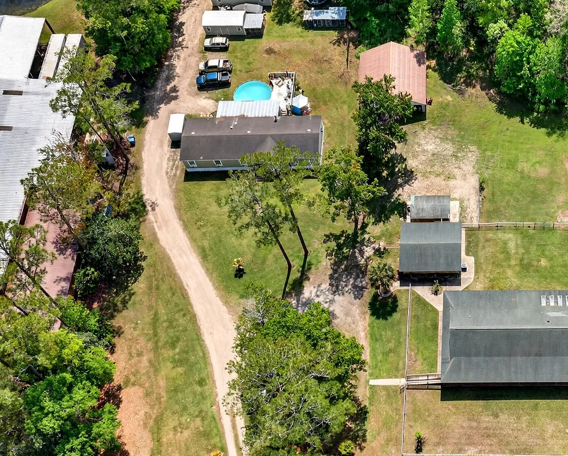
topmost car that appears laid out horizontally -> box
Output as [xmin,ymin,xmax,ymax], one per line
[202,37,231,51]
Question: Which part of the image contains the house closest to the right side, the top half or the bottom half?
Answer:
bottom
